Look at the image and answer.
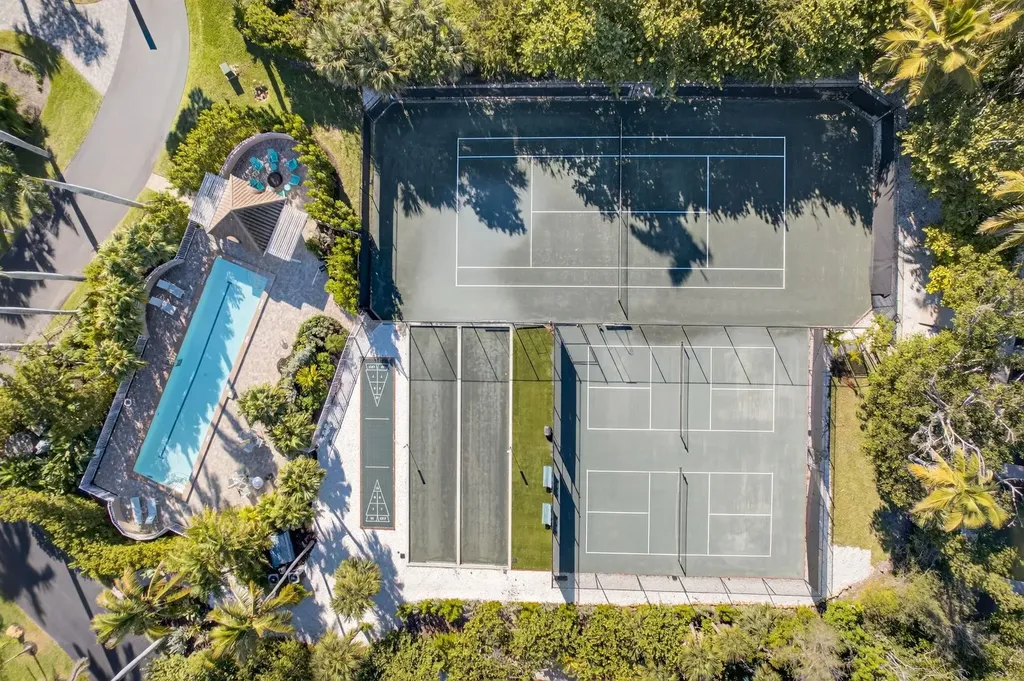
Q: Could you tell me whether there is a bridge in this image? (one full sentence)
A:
No, there is no bridge in the image.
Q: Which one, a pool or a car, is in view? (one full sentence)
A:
There is a pool in the scene.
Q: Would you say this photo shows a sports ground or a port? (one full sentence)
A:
The picture captures a sports ground.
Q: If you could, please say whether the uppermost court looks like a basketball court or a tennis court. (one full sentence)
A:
Specifically, the uppermost court is a tennis court.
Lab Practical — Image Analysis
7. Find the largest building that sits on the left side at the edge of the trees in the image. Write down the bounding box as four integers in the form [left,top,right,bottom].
[184,168,315,262]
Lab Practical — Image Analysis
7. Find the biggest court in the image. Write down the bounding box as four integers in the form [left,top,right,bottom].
[370,102,875,325]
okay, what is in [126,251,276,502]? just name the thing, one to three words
swimming pool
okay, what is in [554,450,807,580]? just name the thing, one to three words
sports court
